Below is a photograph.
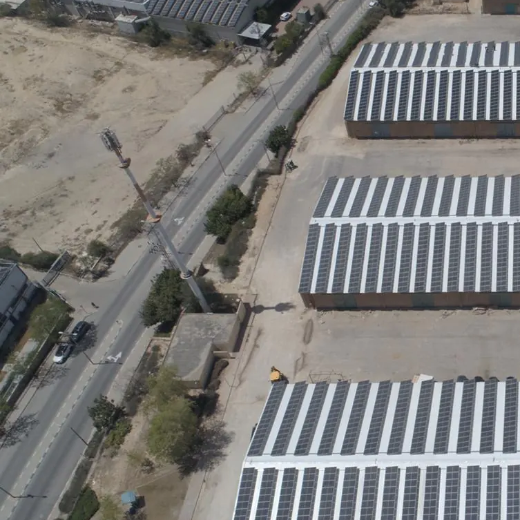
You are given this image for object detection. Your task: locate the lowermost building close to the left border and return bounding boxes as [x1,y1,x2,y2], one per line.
[0,271,43,352]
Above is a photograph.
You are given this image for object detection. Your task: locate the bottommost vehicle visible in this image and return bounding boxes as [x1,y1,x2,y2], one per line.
[266,366,280,387]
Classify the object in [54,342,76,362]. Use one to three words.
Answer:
car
